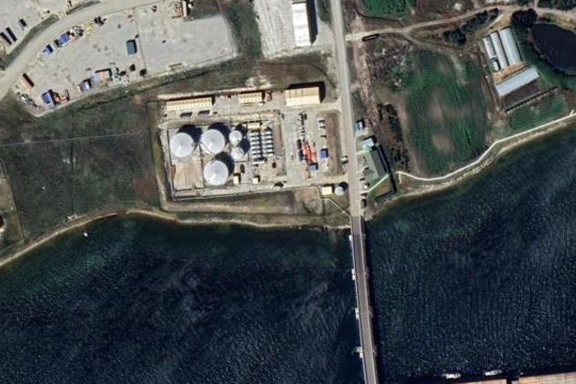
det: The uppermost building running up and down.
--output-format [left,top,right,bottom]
[291,0,311,45]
